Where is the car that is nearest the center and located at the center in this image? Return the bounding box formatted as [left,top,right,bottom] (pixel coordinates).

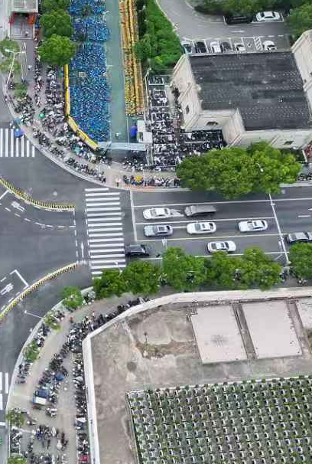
[142,224,174,238]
